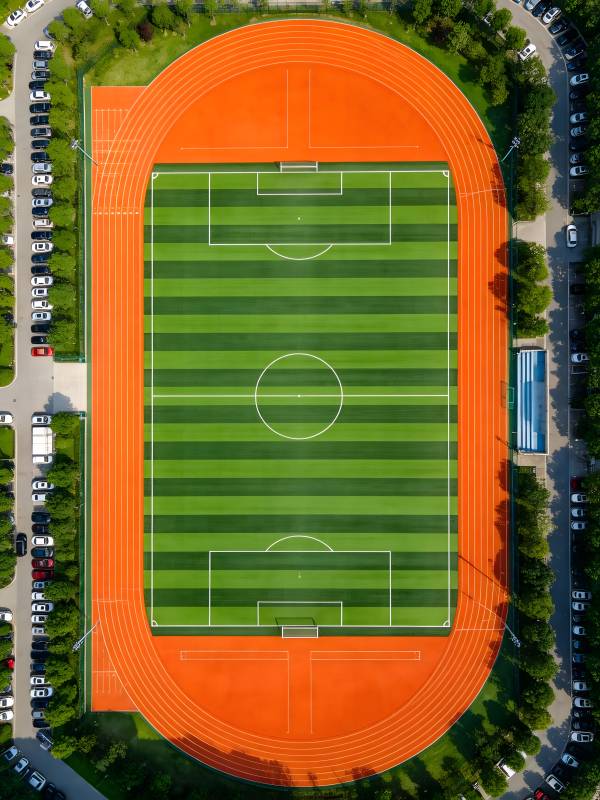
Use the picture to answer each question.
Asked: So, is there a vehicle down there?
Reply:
Yes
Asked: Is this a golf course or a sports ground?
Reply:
sports ground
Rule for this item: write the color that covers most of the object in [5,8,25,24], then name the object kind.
white car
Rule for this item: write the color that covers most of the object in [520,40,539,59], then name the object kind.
white car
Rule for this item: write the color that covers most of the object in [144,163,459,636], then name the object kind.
green sports field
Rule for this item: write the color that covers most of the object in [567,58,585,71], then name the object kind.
black vehicle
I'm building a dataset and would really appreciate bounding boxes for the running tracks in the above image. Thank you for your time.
[86,17,517,792]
